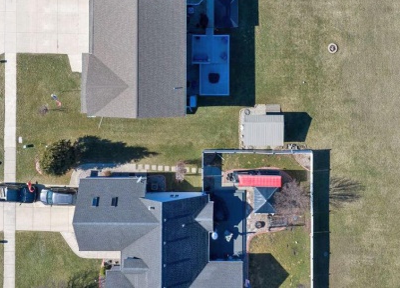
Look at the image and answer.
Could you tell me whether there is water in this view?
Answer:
No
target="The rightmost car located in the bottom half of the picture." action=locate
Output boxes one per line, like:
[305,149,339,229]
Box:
[40,188,76,206]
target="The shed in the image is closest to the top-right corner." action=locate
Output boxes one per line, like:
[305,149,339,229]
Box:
[245,115,286,148]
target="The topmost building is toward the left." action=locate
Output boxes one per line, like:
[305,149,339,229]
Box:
[80,0,188,129]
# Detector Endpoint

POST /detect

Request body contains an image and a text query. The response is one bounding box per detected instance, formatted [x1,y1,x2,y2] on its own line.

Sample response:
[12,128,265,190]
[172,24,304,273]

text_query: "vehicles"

[0,184,38,203]
[40,188,76,206]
